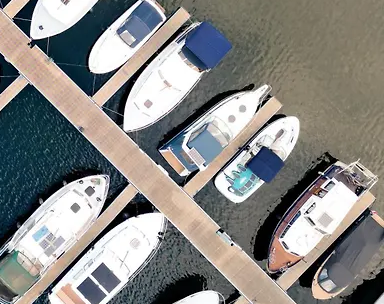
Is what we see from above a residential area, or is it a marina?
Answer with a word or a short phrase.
marina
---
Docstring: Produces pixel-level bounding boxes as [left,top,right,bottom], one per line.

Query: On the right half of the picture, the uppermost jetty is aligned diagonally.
[182,96,284,202]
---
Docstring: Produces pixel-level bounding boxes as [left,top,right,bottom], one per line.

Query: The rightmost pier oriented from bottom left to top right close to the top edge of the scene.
[89,6,191,111]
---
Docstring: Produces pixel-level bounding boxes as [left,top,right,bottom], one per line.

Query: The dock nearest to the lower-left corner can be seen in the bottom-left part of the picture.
[17,178,143,304]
